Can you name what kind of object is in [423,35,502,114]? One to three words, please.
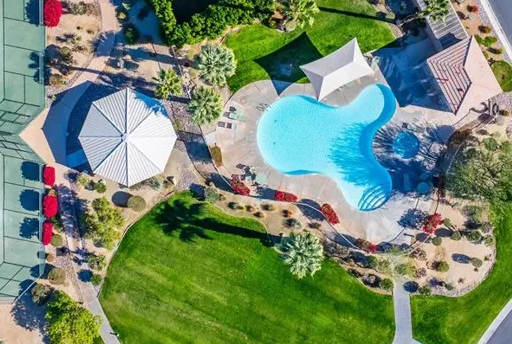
building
